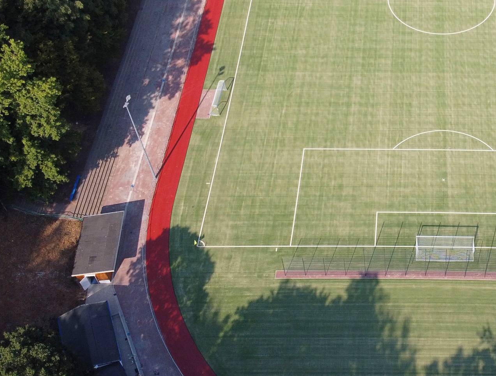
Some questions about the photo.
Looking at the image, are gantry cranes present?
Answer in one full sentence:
No, I can see no gantry crane in this picture.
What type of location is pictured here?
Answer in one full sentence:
The picture captures a sports ground.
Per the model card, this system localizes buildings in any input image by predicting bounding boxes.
[65,211,123,291]
[57,300,126,376]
